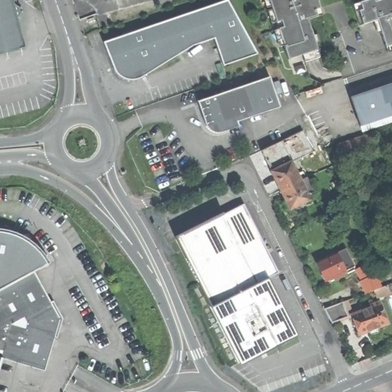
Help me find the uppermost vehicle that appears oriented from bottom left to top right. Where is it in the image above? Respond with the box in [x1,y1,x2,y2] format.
[187,44,204,58]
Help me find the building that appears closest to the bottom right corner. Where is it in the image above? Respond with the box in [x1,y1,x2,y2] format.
[348,302,390,336]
